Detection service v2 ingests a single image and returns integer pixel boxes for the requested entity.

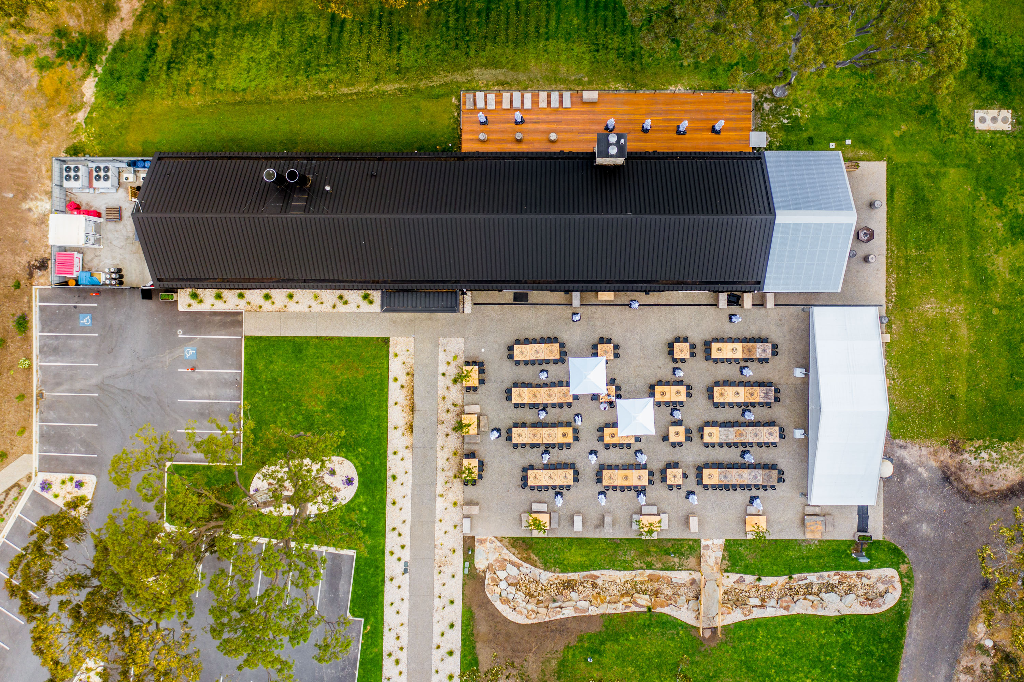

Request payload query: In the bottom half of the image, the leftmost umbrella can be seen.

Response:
[489,425,504,440]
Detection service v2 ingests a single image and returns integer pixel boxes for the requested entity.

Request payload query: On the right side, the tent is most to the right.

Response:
[798,305,889,506]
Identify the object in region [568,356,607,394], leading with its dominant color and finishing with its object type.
white umbrella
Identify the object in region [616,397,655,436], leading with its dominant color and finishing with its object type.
white umbrella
